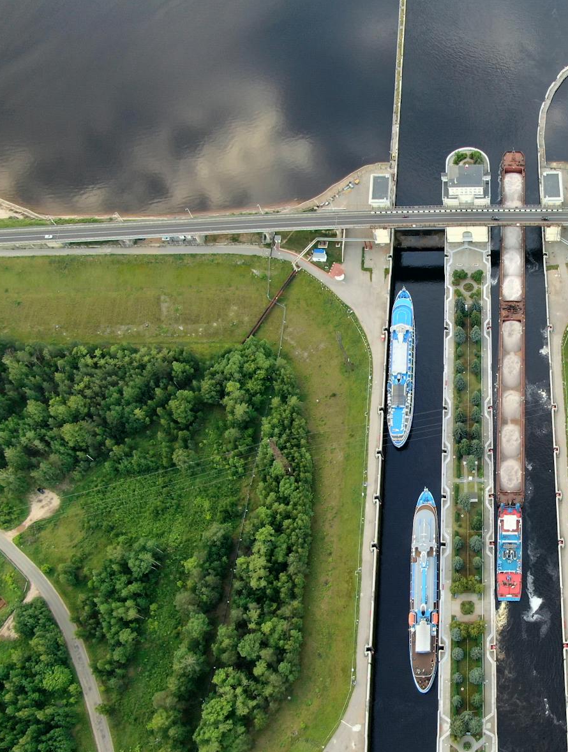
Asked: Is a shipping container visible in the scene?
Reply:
No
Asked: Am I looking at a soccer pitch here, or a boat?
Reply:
boat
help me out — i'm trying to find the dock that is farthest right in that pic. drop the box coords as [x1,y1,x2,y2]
[539,63,568,173]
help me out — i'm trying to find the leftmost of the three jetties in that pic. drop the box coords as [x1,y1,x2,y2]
[391,0,404,172]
